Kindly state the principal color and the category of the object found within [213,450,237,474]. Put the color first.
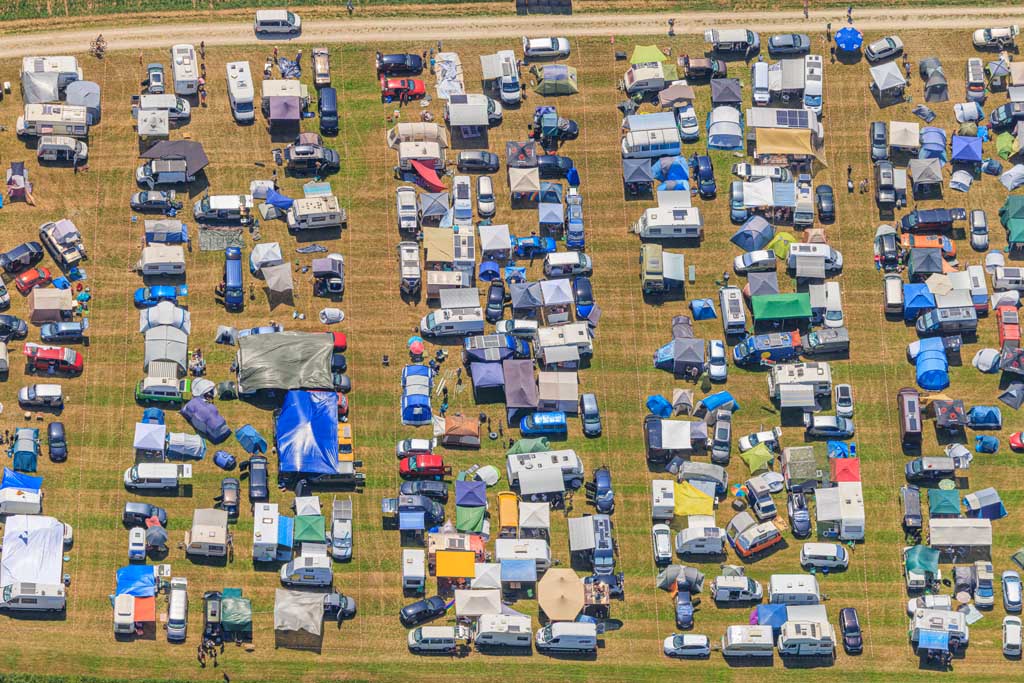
blue tent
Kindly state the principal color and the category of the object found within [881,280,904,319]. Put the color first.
white vehicle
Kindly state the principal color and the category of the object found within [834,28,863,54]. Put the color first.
blue umbrella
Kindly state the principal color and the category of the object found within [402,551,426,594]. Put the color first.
white camper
